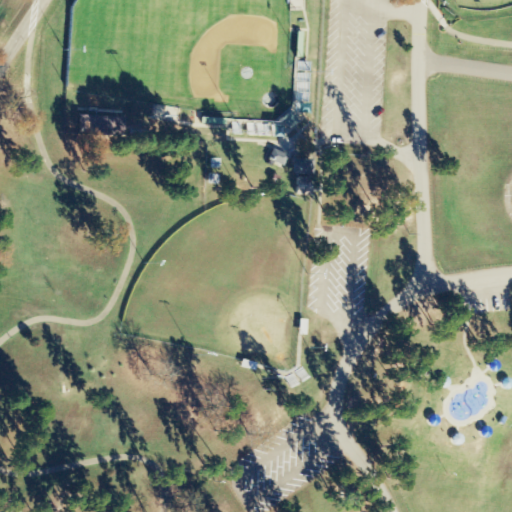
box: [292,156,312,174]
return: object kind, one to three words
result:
building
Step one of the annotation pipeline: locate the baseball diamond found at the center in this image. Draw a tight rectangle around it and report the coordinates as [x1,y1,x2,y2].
[122,195,310,370]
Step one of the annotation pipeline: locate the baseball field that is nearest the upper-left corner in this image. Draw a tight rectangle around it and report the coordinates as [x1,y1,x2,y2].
[67,0,292,120]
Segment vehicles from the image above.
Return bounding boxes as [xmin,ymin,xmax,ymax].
[375,106,386,117]
[494,298,500,310]
[331,138,343,144]
[376,28,387,39]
